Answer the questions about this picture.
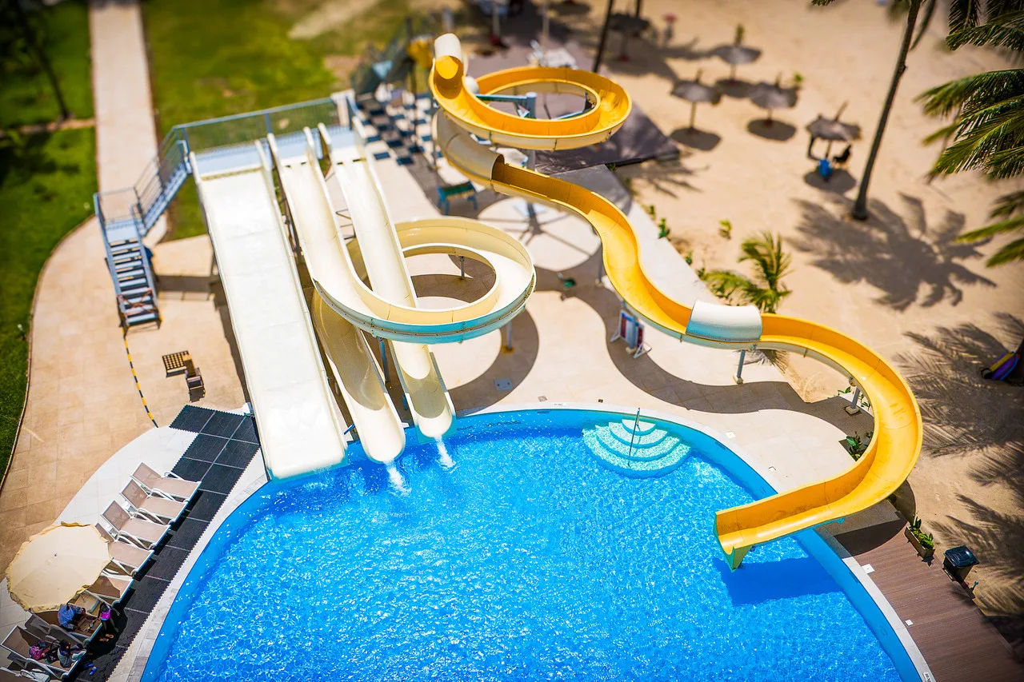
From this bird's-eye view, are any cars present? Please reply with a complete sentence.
No, the photo shows no car.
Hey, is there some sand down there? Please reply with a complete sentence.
Yes, the picture does contain sand.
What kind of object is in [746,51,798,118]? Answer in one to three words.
umbrella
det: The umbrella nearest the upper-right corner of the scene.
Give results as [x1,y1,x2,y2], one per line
[807,94,867,157]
